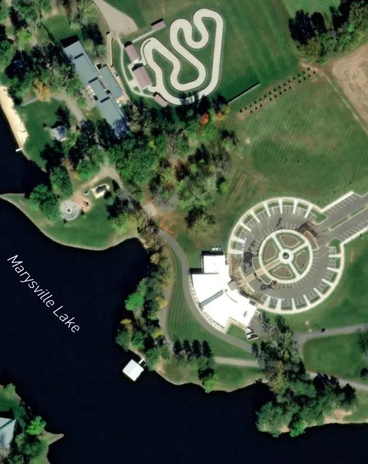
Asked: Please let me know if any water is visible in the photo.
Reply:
Yes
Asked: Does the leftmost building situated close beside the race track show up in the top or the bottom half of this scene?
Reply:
top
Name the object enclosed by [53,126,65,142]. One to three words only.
gazebo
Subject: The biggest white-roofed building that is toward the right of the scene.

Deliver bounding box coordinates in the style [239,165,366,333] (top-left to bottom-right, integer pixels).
[192,255,257,329]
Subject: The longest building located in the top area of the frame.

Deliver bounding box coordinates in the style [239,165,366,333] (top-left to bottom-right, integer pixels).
[64,41,130,139]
